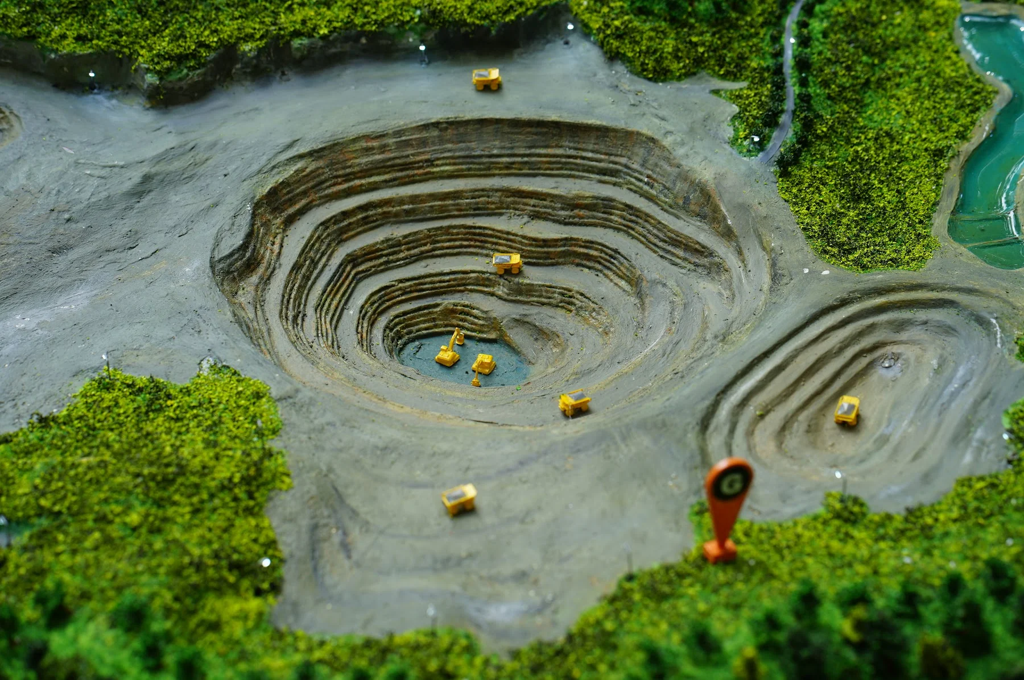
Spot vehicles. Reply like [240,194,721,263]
[475,69,500,89]
[837,397,859,426]
[494,252,521,273]
[442,485,477,515]
[434,332,464,369]
[471,352,497,383]
[558,388,590,415]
